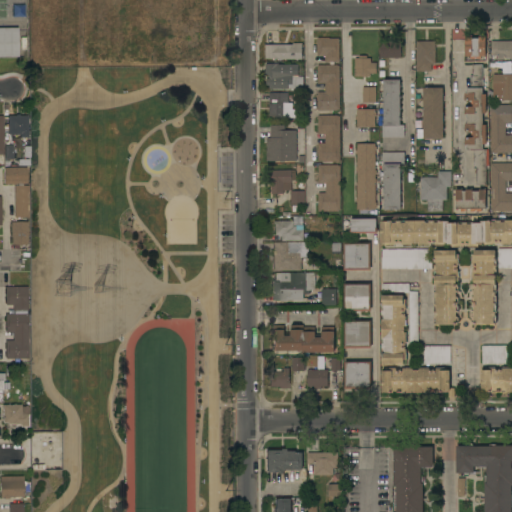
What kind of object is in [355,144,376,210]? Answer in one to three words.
building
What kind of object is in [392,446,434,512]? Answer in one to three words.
building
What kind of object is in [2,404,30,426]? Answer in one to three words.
house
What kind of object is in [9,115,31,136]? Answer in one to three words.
house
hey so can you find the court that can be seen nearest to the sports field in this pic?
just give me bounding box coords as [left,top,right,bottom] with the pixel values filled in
[166,196,199,244]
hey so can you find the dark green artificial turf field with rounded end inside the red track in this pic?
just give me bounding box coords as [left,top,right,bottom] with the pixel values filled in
[134,328,186,512]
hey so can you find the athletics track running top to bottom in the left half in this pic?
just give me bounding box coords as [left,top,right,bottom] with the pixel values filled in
[126,318,195,512]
